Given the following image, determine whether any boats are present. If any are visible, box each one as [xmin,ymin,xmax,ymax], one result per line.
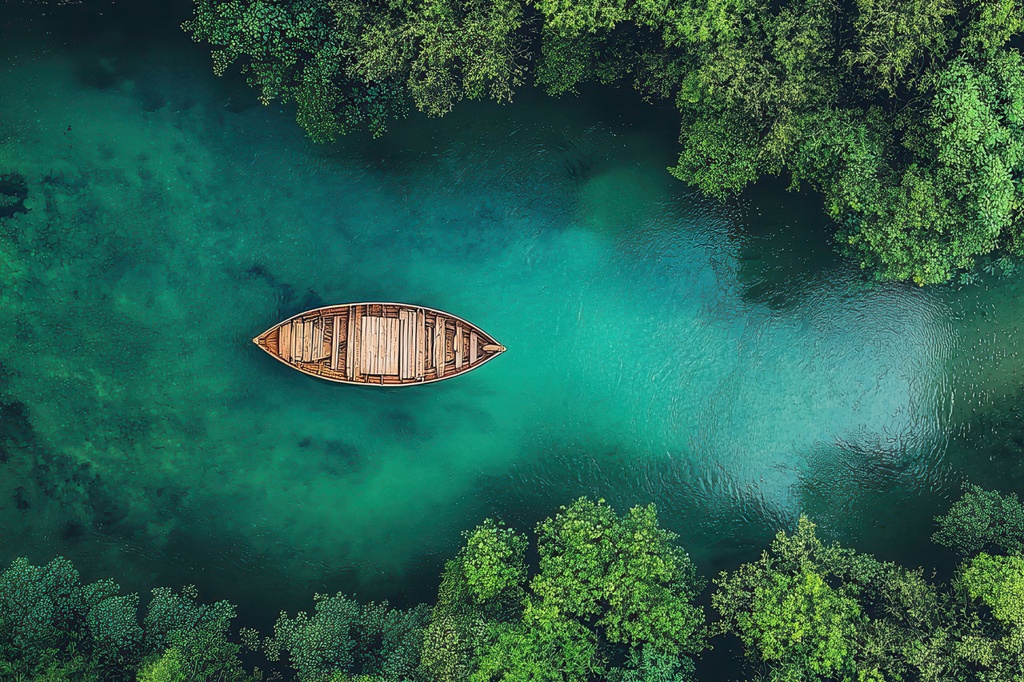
[251,302,508,388]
